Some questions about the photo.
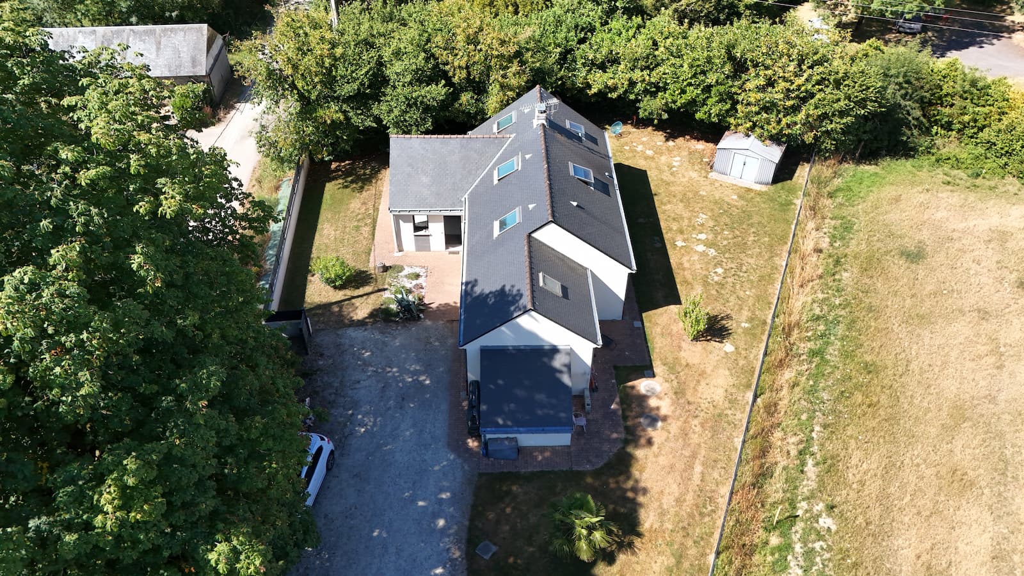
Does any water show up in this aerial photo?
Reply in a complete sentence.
No, there is no water in the image.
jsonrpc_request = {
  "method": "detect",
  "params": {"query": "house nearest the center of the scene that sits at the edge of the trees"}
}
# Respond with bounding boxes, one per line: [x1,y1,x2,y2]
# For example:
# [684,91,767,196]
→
[388,86,640,448]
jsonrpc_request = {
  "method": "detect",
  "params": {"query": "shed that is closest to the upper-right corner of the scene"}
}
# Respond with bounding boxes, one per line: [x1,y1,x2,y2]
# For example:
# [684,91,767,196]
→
[709,125,785,190]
